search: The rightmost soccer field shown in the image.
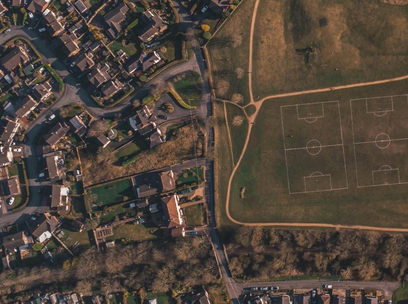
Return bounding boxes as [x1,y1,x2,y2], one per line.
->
[351,94,408,188]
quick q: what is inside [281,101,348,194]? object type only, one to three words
soccer field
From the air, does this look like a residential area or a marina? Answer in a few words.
residential area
